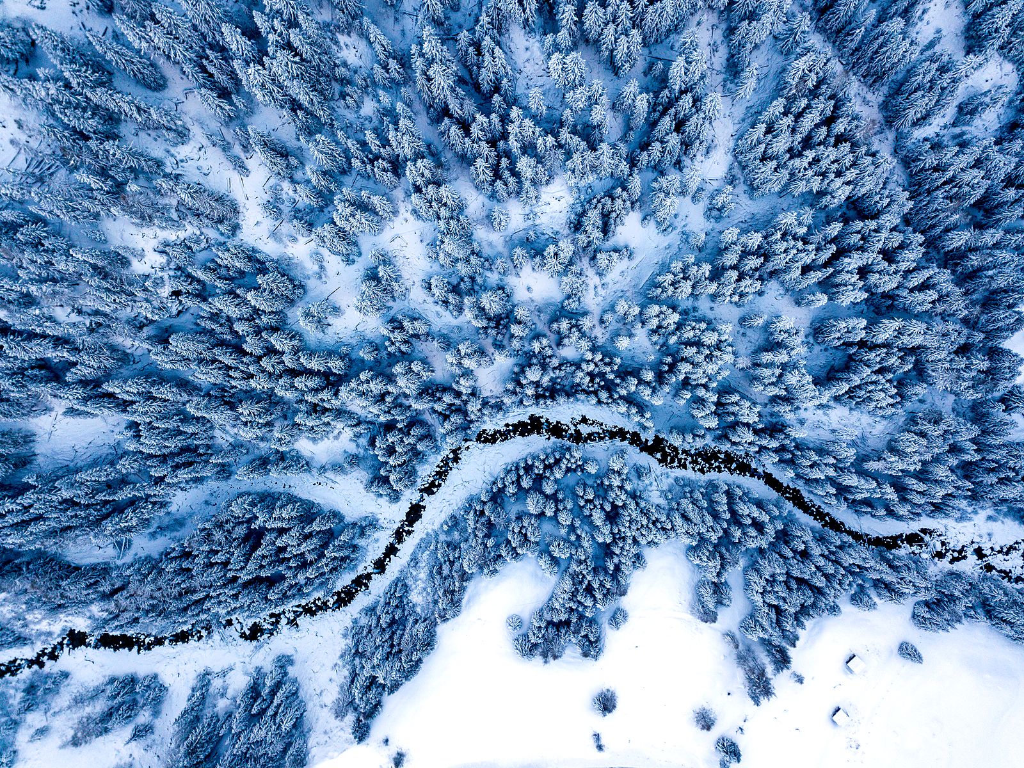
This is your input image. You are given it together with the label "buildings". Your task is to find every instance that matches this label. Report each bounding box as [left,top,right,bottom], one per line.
[829,705,851,727]
[844,652,867,675]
